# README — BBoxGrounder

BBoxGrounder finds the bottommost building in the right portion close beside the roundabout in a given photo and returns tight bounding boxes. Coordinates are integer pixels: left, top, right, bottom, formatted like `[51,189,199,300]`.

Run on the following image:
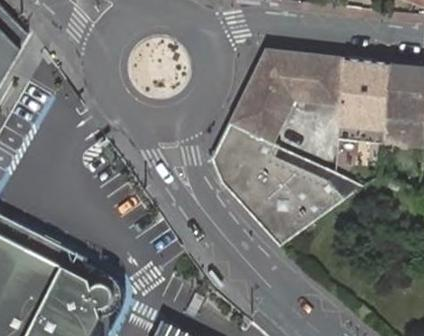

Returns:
[214,126,362,246]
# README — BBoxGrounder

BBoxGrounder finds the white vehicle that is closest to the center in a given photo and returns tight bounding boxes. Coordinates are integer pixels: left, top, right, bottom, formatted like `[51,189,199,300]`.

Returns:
[155,160,174,184]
